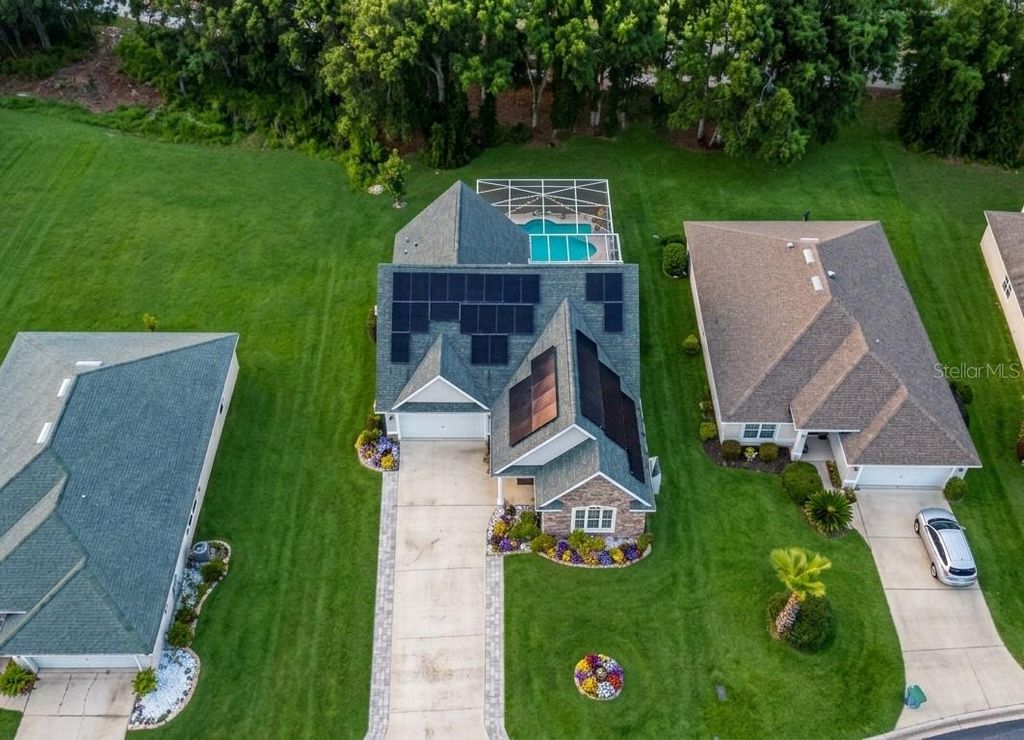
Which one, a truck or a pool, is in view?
pool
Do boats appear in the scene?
No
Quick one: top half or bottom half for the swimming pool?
top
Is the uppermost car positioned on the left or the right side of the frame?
right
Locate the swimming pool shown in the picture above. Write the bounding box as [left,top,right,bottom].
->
[515,215,601,262]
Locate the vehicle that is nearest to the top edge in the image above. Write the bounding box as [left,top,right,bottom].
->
[913,507,978,588]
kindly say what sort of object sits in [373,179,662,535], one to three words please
house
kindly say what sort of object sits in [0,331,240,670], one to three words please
house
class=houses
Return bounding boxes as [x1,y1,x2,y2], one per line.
[373,179,662,535]
[980,211,1024,362]
[0,331,240,670]
[683,220,983,488]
